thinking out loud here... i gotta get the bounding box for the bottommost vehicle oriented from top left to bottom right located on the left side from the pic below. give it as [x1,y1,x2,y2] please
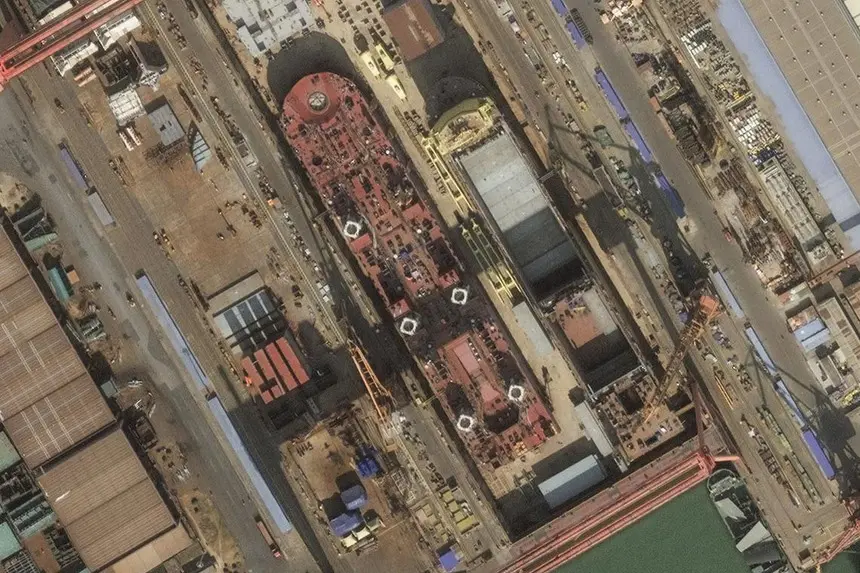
[255,520,281,557]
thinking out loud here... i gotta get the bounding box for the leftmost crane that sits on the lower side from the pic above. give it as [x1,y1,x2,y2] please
[346,334,405,456]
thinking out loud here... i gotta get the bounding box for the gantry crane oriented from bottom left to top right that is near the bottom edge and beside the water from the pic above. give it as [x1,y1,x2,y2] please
[496,365,750,573]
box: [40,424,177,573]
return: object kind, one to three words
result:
building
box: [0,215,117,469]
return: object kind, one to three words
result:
building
